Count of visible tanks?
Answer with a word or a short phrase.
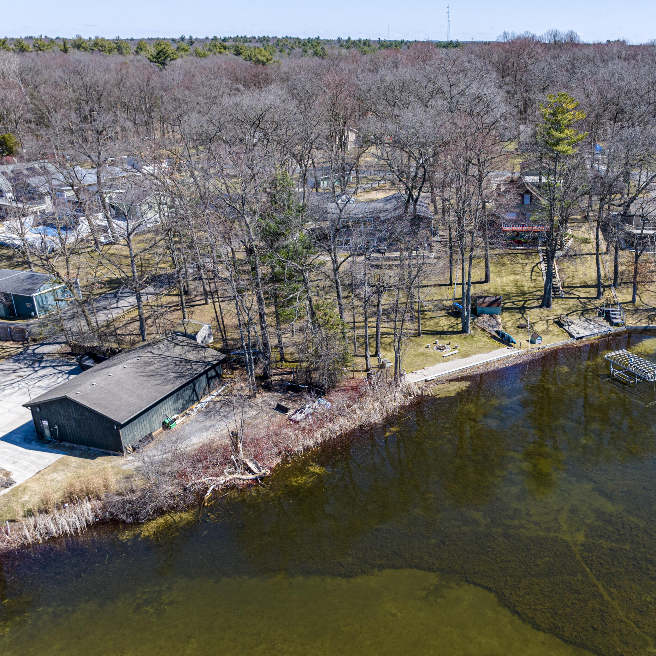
0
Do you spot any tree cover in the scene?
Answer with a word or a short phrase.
Yes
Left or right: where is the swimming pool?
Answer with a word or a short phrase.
left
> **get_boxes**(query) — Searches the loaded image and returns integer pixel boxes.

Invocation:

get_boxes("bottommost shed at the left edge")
[18,336,226,454]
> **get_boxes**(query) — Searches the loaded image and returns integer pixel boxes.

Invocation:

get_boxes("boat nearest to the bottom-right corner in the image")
[494,330,519,345]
